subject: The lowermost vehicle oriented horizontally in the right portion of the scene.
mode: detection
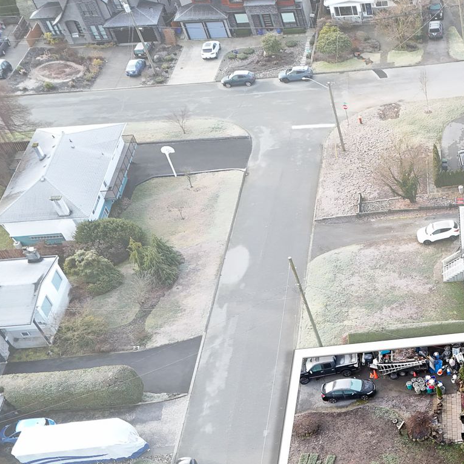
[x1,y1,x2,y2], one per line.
[321,377,374,406]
